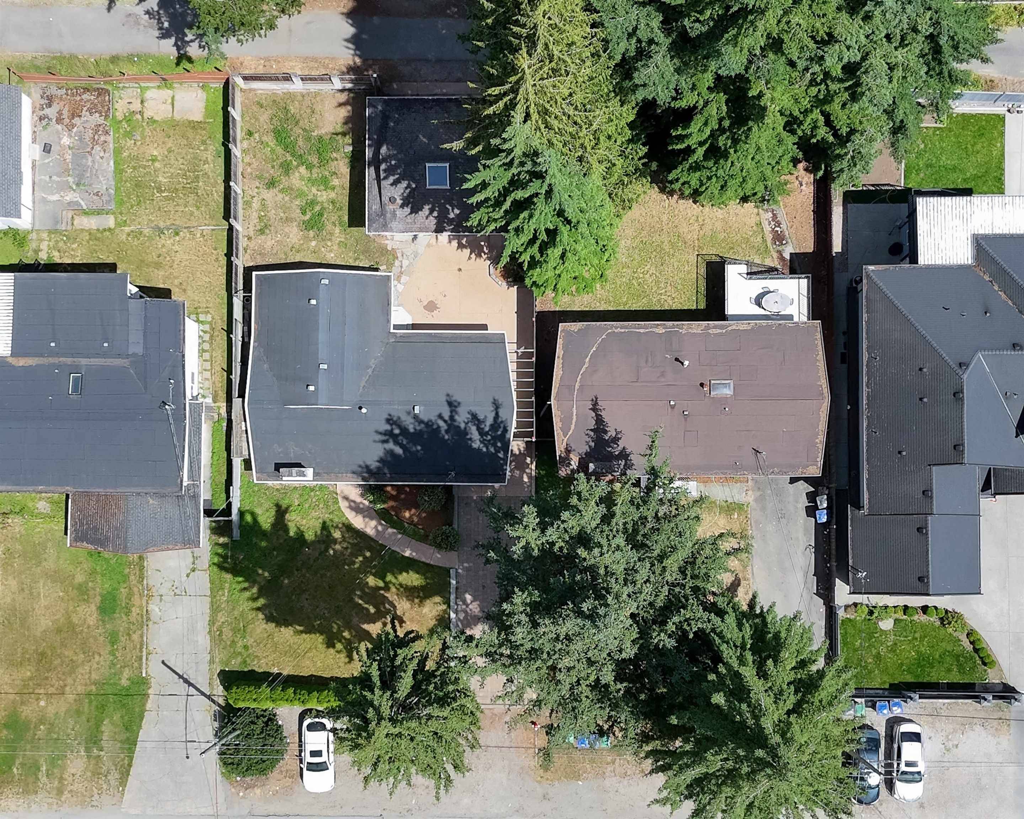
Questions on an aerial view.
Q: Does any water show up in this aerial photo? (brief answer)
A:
No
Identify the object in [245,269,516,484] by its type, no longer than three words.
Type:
house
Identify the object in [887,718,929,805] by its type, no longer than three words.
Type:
car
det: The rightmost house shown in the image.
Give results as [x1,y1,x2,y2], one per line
[846,234,1024,595]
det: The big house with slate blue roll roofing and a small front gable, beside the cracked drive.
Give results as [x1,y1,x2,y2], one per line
[0,273,204,555]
